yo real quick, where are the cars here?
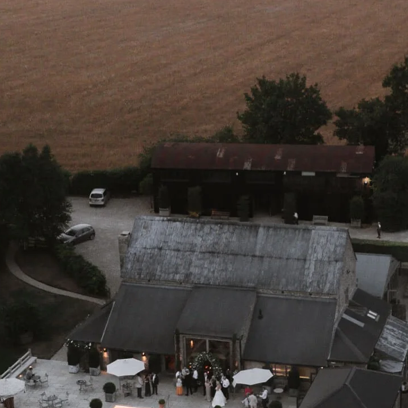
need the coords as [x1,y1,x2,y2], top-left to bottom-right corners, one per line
[60,223,98,246]
[89,184,107,203]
